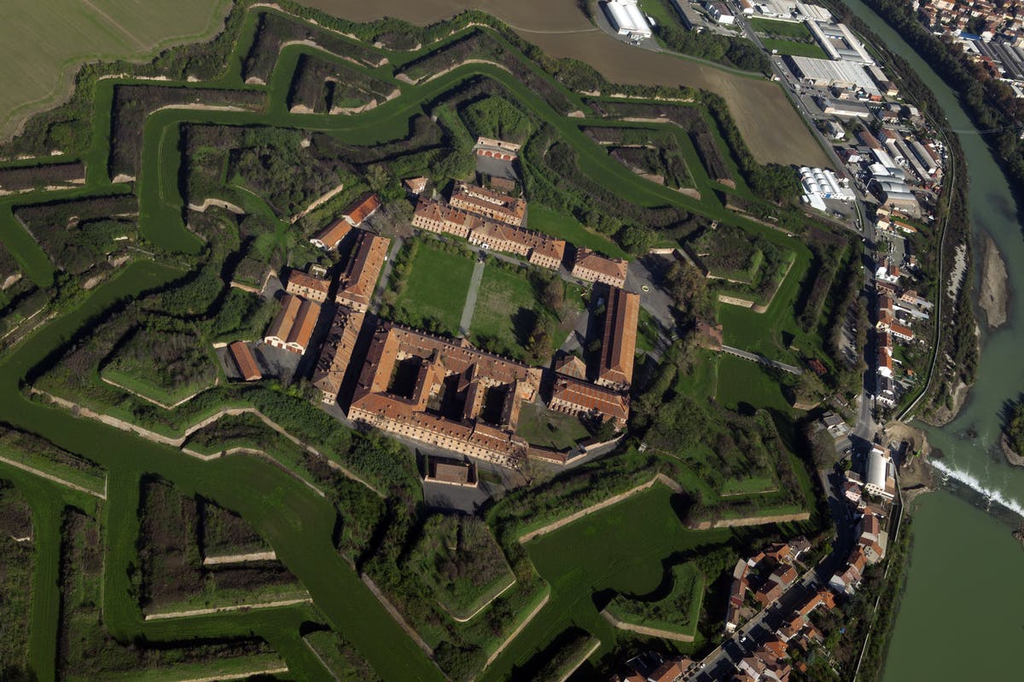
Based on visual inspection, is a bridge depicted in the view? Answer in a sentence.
Yes, a bridge is visible in the scene.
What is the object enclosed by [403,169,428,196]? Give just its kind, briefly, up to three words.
house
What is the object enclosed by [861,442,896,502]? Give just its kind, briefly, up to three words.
building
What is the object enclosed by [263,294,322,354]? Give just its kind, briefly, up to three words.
building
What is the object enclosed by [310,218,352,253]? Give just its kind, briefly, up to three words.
shed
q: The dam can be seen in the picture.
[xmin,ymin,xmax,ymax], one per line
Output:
[927,459,1024,520]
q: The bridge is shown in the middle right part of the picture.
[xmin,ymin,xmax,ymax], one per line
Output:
[722,339,812,375]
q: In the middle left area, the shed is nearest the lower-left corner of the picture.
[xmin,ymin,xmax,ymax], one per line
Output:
[226,341,263,385]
